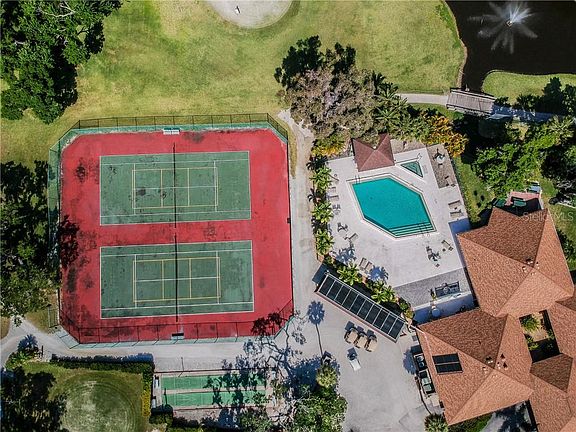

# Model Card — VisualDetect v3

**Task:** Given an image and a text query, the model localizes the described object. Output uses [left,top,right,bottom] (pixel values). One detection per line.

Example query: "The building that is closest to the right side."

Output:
[417,207,576,432]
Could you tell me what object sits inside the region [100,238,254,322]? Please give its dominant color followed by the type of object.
green tennis court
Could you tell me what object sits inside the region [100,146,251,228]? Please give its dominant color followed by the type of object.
green tennis court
